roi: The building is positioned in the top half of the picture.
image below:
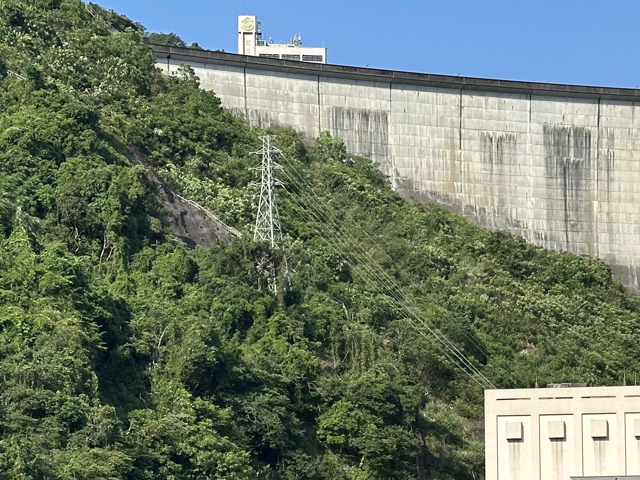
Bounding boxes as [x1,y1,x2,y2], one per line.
[238,15,331,60]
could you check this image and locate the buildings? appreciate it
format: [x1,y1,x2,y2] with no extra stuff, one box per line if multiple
[486,380,640,480]
[238,15,331,60]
